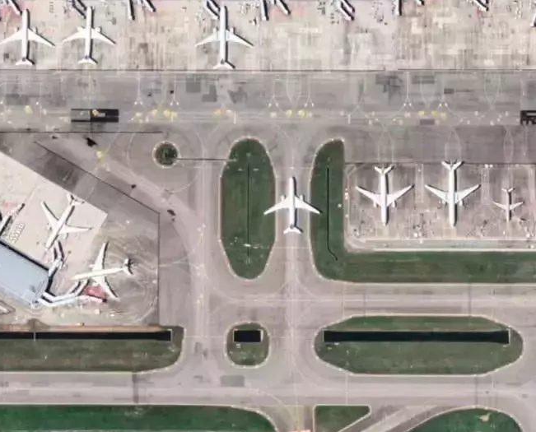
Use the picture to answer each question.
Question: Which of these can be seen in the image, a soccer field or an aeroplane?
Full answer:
Visible in the photo is an aeroplane.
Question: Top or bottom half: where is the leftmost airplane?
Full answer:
Seen from above, the leftmost airplane lies in the top half of the view.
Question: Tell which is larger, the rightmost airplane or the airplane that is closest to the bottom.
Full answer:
Of the two, the airplane that is closest to the bottom is bigger, while the rightmost airplane is smaller.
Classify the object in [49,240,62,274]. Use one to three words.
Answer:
jet bridge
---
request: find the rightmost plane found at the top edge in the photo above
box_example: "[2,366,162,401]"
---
[194,5,251,69]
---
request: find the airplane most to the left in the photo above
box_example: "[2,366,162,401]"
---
[0,10,53,66]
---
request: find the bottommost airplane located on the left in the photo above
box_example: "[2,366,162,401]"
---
[73,241,130,299]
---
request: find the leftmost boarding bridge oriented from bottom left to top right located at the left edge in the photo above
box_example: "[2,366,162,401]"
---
[0,204,26,239]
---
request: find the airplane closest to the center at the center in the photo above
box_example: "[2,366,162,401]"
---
[264,177,320,233]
